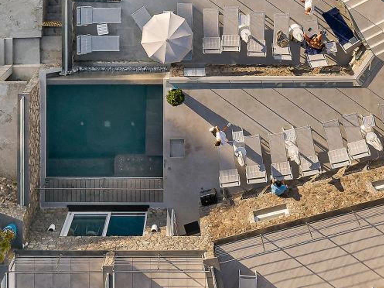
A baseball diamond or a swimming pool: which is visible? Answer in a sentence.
Of the two, only a swimming pool appears.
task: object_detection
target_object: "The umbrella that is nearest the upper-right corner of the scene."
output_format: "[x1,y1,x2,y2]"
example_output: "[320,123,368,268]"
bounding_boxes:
[290,23,302,40]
